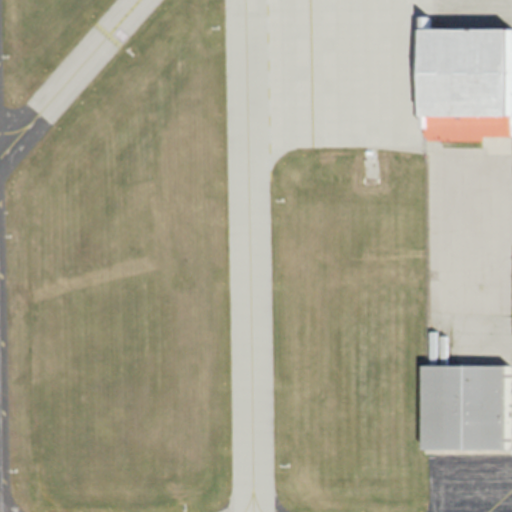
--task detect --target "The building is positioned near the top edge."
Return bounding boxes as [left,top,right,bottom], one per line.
[415,16,512,117]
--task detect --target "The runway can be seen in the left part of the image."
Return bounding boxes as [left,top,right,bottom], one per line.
[0,0,55,512]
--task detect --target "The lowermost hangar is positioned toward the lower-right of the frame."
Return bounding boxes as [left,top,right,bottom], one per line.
[420,366,510,450]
